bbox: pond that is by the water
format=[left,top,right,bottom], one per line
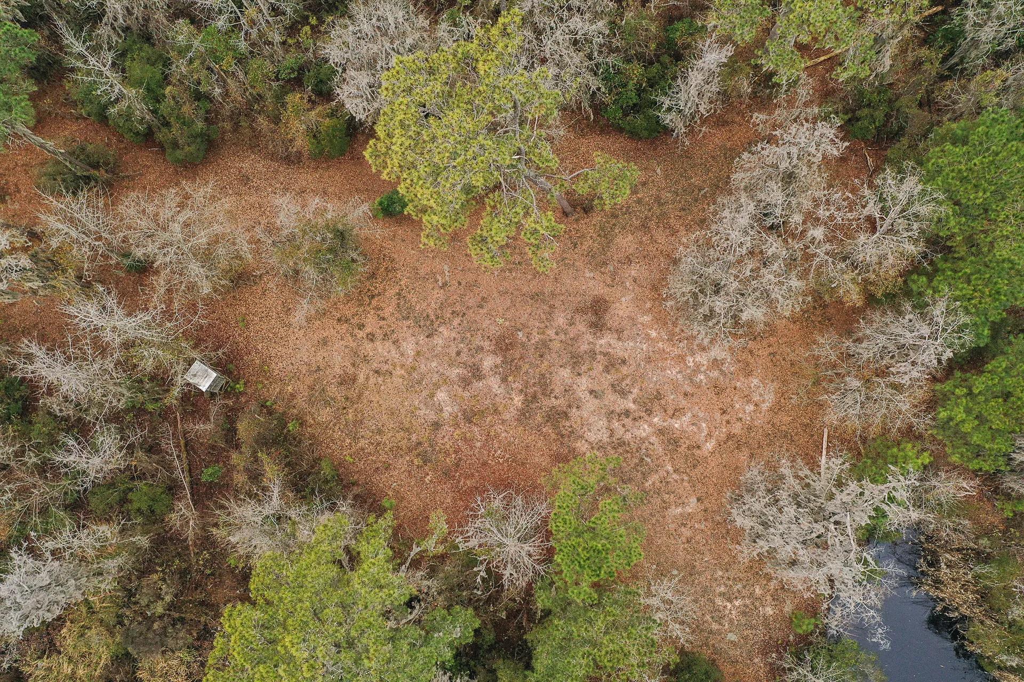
[816,523,995,682]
